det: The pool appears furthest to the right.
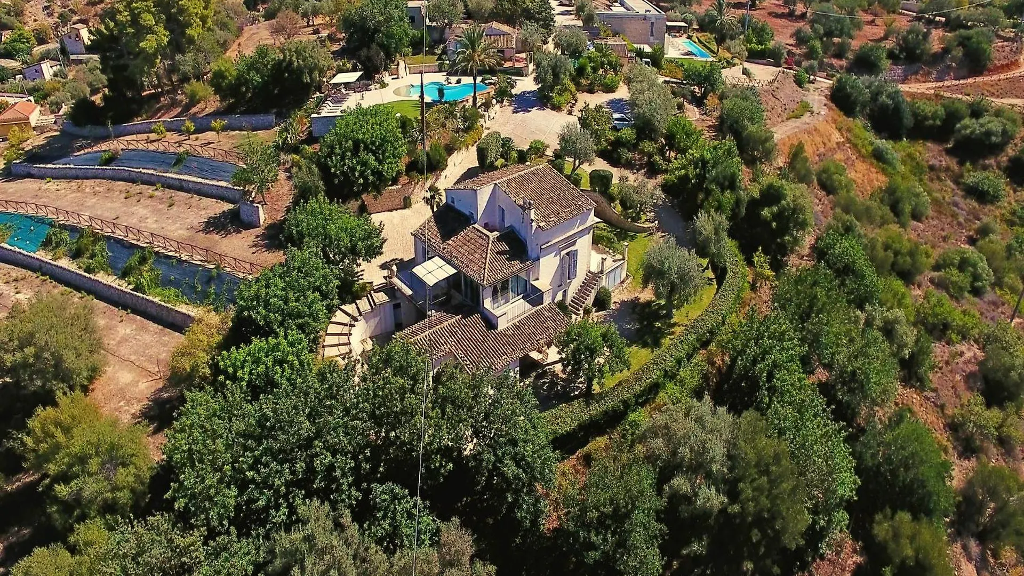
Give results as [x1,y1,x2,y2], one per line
[678,39,714,57]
